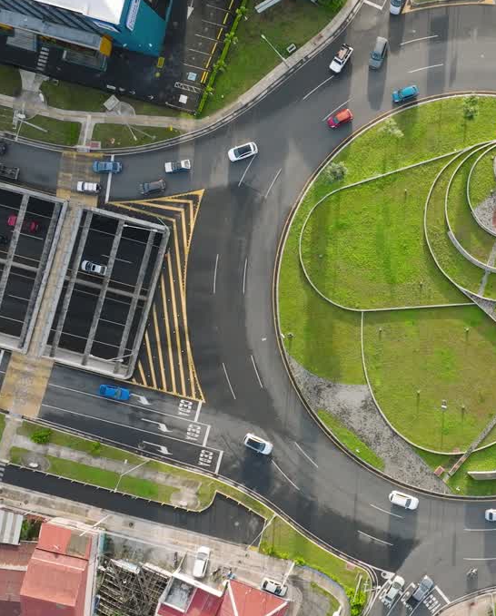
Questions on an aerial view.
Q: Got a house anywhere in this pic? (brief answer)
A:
Yes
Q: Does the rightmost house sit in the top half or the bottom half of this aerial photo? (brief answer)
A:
bottom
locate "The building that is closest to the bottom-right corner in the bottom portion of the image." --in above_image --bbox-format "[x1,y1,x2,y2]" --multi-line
[221,576,289,616]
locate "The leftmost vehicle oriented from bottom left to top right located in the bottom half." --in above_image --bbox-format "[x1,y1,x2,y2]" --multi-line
[381,575,403,604]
